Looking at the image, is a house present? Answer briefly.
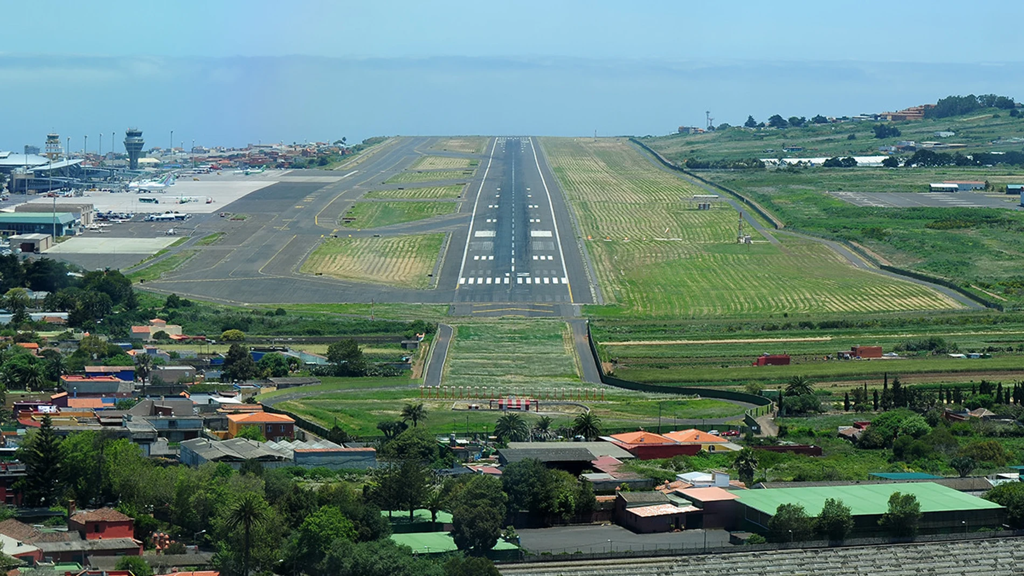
Yes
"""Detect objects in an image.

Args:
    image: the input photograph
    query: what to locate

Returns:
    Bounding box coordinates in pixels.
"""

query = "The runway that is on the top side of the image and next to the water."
[451,137,576,316]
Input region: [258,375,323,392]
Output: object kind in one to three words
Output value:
shed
